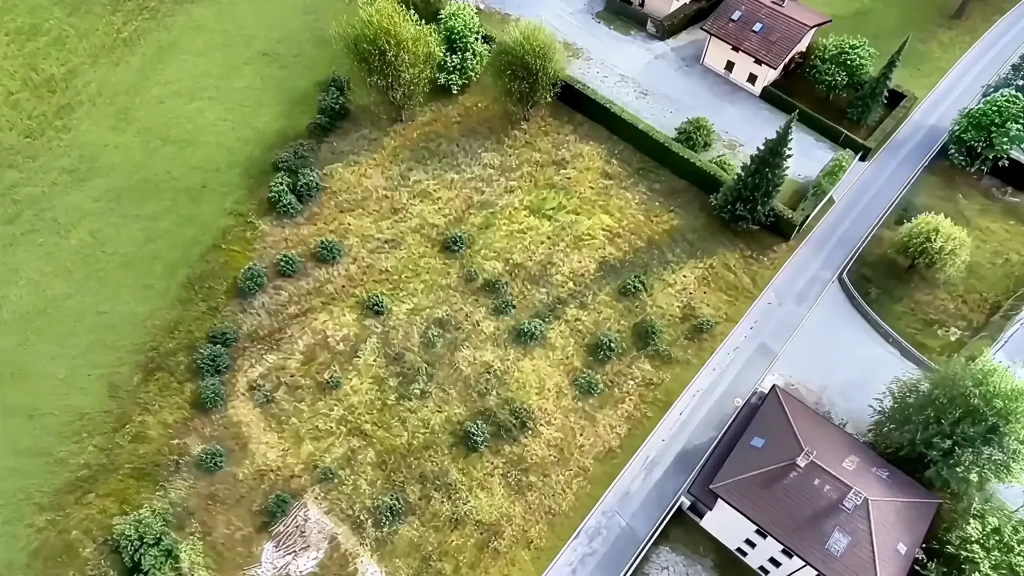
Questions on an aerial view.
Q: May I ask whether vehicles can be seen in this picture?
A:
No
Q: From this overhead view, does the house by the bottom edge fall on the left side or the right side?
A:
right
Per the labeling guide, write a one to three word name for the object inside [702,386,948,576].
house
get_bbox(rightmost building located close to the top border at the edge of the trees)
[701,0,826,95]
